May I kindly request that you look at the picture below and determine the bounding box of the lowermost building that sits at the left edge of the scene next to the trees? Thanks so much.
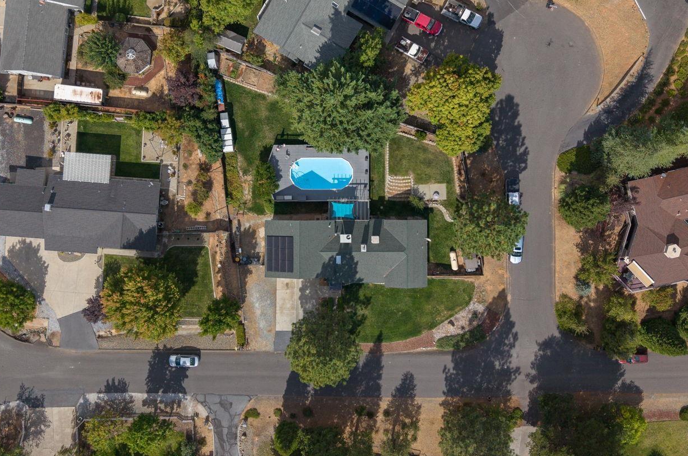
[0,169,161,254]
